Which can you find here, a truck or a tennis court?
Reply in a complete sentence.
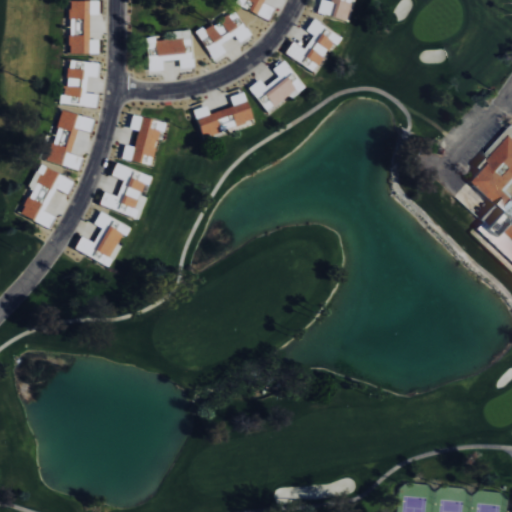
I can see a tennis court in this picture.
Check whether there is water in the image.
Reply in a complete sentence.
Yes, some water is visible.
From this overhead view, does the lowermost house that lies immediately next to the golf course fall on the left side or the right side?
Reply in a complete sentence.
You can find the lowermost house that lies immediately next to the golf course on the left side of the picture.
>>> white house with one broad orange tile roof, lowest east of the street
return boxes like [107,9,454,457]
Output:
[74,212,132,267]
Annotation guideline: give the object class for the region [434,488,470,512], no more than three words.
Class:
tennis court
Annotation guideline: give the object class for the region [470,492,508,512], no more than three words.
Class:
tennis court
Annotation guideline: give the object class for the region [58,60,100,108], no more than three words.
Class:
house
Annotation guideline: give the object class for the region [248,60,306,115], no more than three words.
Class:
house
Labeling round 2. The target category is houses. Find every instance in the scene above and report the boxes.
[317,0,354,22]
[146,30,195,75]
[236,0,276,21]
[194,12,252,63]
[99,163,153,220]
[284,18,343,74]
[74,212,132,267]
[20,164,74,229]
[192,92,254,137]
[68,0,101,55]
[58,60,100,108]
[121,115,167,166]
[248,60,306,115]
[46,110,95,171]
